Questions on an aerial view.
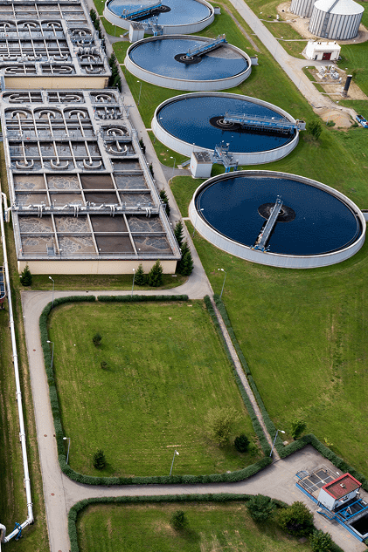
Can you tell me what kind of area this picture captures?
industrial area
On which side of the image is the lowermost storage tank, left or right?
right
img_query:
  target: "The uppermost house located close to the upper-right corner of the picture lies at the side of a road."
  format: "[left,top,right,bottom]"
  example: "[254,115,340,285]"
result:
[302,40,343,60]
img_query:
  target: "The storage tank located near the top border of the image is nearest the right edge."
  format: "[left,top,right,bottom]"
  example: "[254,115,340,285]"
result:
[306,0,368,40]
